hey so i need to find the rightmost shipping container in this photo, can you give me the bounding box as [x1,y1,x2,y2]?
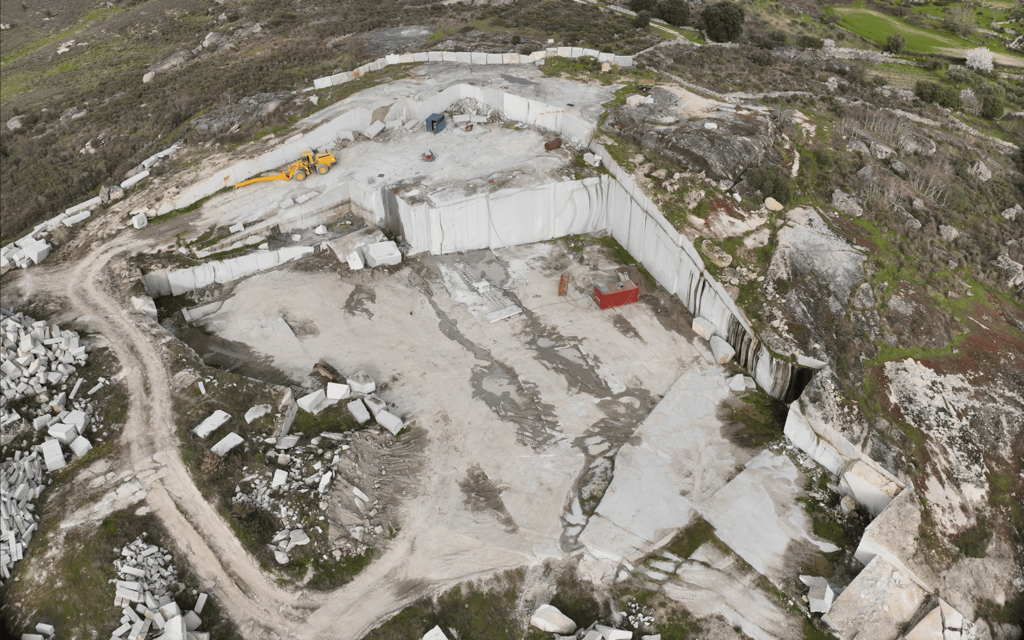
[594,275,641,309]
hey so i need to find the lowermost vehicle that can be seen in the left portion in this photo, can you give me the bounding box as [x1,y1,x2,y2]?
[236,152,335,190]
